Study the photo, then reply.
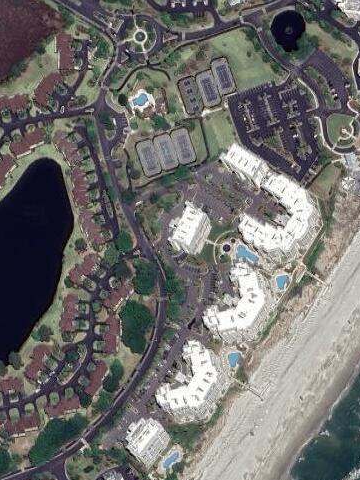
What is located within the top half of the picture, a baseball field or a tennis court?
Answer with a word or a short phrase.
tennis court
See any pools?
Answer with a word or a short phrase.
Yes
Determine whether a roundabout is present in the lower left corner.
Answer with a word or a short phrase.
No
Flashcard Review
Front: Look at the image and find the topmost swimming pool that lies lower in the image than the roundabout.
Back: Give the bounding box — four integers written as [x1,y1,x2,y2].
[128,89,155,112]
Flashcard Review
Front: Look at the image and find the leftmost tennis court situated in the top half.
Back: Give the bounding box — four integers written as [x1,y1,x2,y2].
[137,140,161,177]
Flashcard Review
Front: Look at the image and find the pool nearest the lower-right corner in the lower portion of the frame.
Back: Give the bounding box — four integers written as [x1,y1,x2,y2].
[220,348,243,375]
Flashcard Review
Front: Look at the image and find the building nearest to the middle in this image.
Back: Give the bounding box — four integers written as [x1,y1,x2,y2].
[163,199,212,257]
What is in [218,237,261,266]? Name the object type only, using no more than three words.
swimming pool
